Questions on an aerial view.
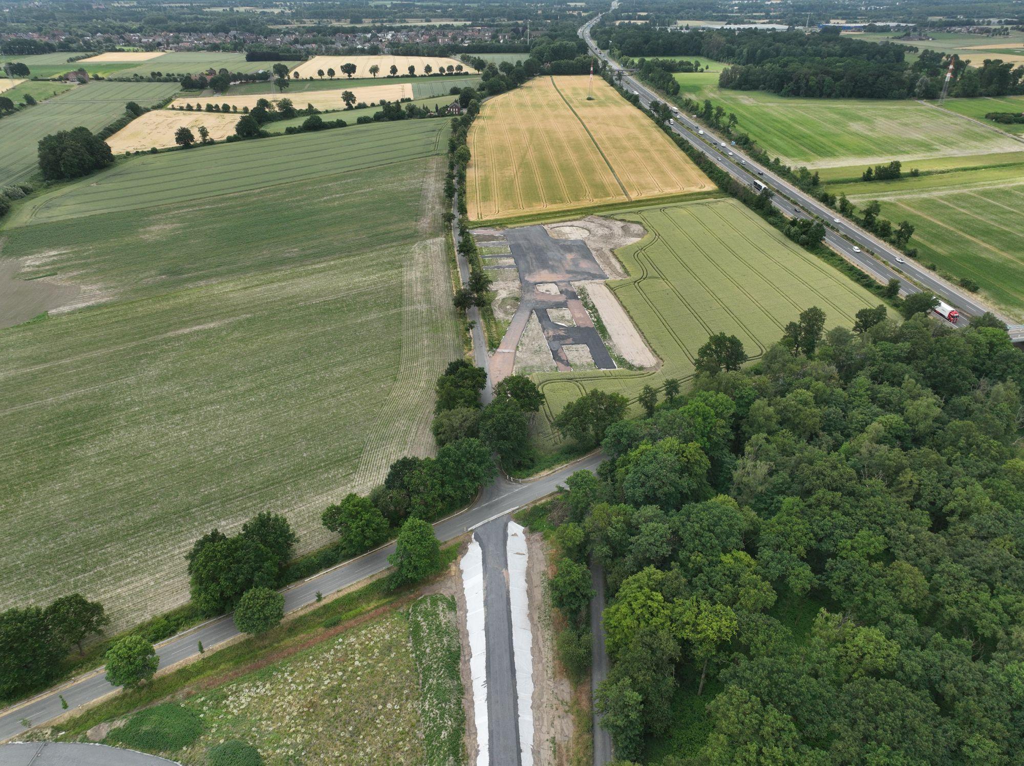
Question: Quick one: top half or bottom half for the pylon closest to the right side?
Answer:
top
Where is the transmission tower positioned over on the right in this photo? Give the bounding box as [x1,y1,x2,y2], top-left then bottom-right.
[936,47,959,105]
